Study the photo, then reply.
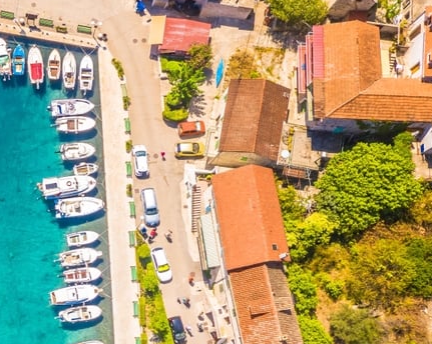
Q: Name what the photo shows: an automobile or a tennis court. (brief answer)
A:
automobile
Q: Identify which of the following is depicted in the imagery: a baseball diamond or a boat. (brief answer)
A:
boat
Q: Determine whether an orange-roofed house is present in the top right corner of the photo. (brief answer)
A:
Yes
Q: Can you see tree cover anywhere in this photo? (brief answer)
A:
Yes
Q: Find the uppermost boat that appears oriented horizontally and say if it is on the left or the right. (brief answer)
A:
left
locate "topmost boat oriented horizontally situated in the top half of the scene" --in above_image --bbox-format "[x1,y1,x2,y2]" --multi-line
[48,98,100,118]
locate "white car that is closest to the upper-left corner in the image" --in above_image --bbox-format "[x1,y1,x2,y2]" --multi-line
[131,144,151,180]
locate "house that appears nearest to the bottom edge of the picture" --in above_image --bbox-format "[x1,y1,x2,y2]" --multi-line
[218,265,302,344]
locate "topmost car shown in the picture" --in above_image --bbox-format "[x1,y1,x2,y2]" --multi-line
[177,120,205,139]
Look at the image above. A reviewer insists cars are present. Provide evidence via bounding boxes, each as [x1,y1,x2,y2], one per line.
[167,313,190,344]
[140,188,161,228]
[131,144,151,180]
[177,120,205,139]
[174,141,205,159]
[150,245,173,283]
